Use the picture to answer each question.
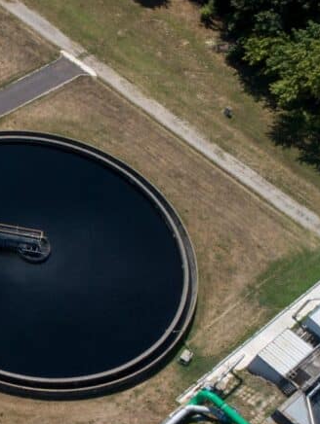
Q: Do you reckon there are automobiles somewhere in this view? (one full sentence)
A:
No, this view has no automobile in it.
